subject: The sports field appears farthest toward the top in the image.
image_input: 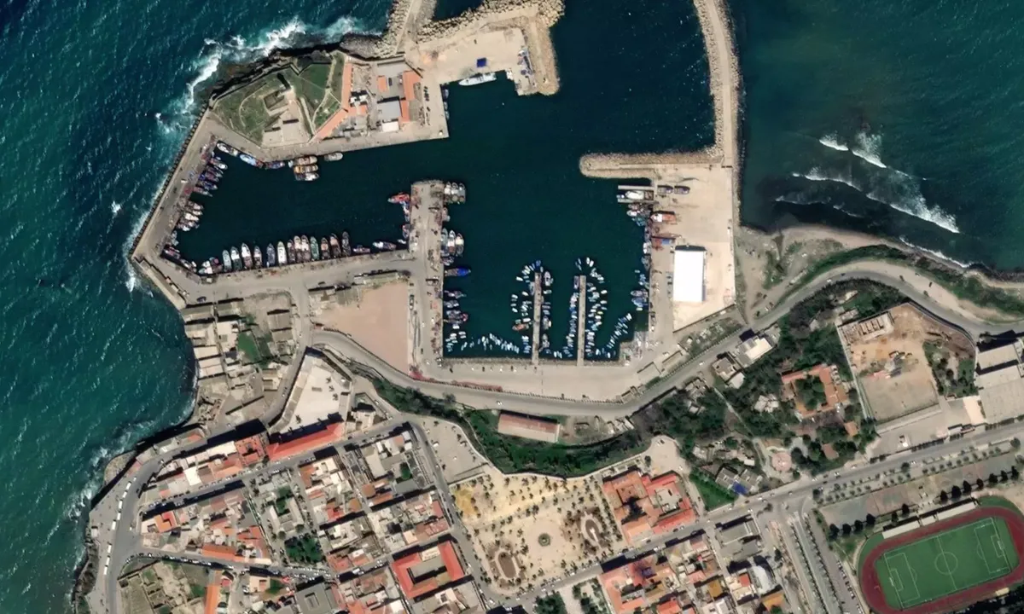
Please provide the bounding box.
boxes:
[861,368,938,422]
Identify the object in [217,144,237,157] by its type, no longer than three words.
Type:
boat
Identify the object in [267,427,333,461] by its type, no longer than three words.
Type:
building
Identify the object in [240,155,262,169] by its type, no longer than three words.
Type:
boat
